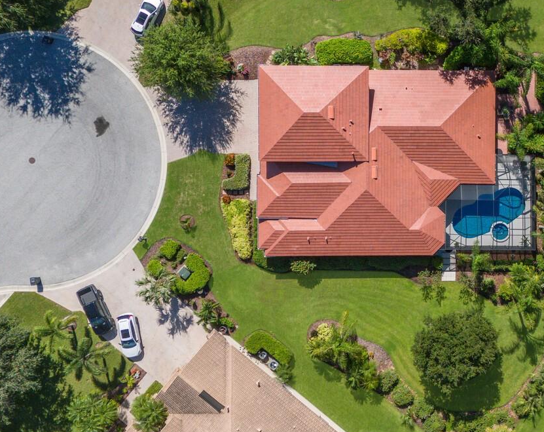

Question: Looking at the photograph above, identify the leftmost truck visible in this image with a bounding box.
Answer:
[77,280,119,338]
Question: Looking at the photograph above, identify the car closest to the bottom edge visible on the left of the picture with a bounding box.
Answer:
[118,311,145,358]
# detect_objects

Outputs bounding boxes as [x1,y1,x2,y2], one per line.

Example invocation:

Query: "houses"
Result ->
[256,66,496,257]
[123,330,341,432]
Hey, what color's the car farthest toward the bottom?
white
